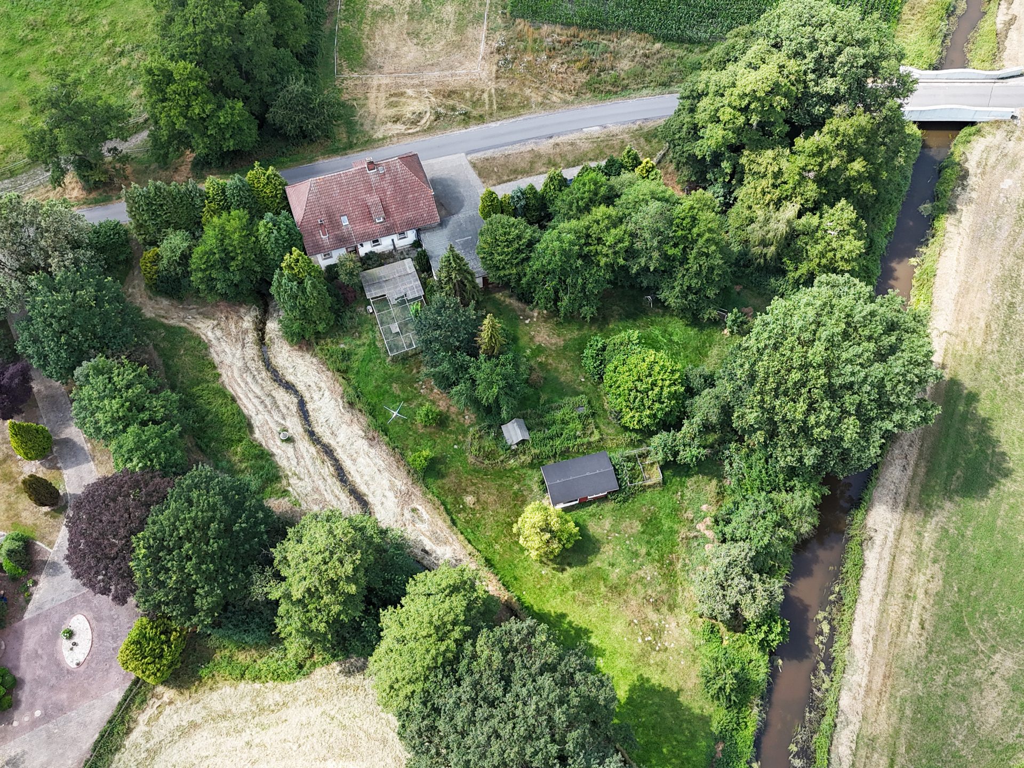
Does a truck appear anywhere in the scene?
No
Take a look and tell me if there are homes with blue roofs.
No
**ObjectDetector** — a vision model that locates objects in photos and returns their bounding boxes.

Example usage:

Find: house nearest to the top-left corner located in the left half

[286,152,440,267]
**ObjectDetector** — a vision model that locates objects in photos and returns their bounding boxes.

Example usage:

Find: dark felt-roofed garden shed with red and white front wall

[541,451,619,510]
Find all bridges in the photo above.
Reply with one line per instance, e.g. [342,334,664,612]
[901,61,1024,121]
